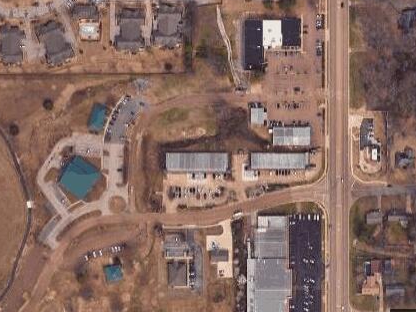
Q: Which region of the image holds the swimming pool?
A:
top left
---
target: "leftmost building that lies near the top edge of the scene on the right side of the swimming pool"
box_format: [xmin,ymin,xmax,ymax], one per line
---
[115,6,145,53]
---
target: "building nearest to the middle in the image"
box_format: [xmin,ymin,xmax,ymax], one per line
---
[167,153,229,171]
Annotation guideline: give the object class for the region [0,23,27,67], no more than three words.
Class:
building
